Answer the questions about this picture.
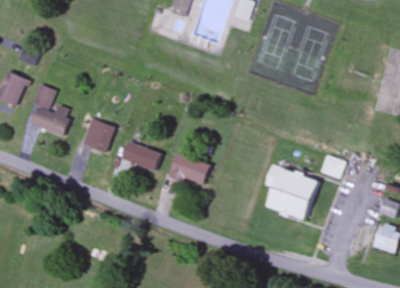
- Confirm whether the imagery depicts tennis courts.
Yes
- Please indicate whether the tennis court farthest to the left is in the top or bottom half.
top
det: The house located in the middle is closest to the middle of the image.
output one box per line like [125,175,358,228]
[169,154,210,184]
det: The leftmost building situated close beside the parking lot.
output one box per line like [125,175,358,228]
[265,165,320,222]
